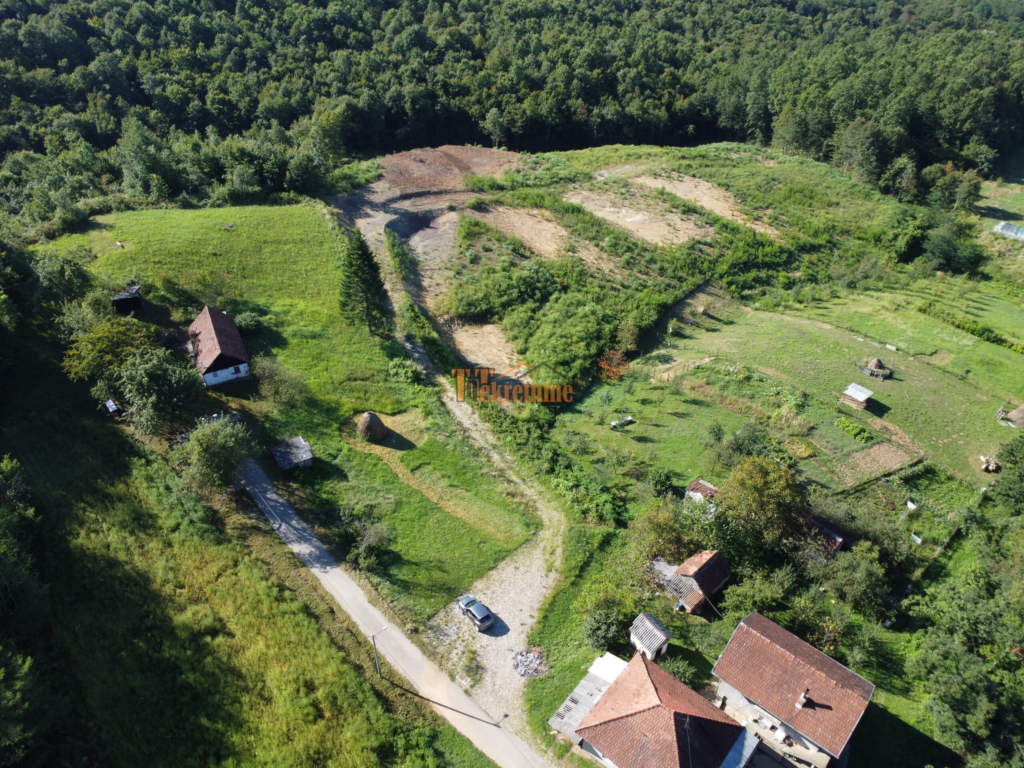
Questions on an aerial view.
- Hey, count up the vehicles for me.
1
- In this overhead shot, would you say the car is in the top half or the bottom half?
bottom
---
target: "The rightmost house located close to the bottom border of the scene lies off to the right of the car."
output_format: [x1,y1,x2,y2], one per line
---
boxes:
[710,611,877,768]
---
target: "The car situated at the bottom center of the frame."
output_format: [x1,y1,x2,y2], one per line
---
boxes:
[457,598,492,637]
